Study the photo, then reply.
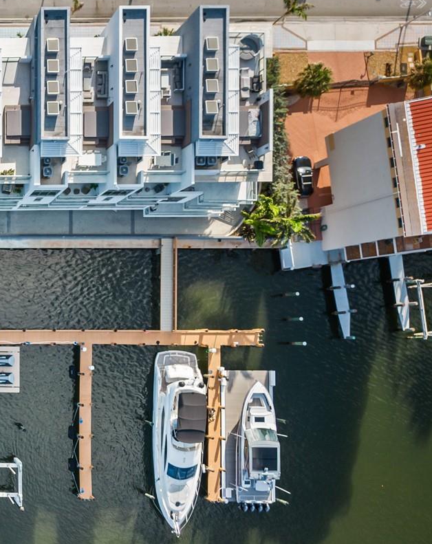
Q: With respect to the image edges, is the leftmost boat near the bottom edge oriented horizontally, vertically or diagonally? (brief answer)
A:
vertically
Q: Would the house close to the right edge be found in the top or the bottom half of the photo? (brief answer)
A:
top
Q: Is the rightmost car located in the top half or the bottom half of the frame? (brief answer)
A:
top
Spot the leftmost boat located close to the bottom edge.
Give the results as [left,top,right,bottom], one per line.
[152,349,212,541]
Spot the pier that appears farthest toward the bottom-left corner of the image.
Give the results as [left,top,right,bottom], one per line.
[74,345,99,502]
